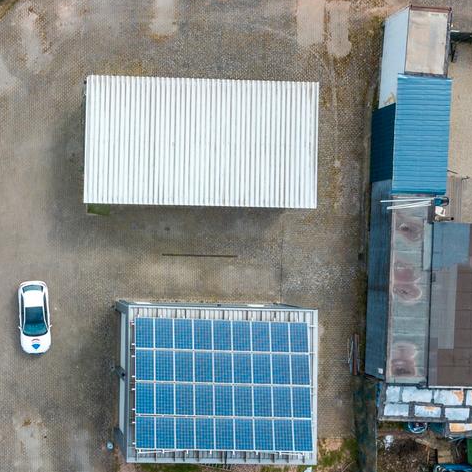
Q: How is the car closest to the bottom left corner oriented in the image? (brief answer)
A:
up and down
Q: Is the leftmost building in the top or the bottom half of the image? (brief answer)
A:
bottom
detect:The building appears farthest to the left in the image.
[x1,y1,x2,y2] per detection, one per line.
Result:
[114,297,318,464]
